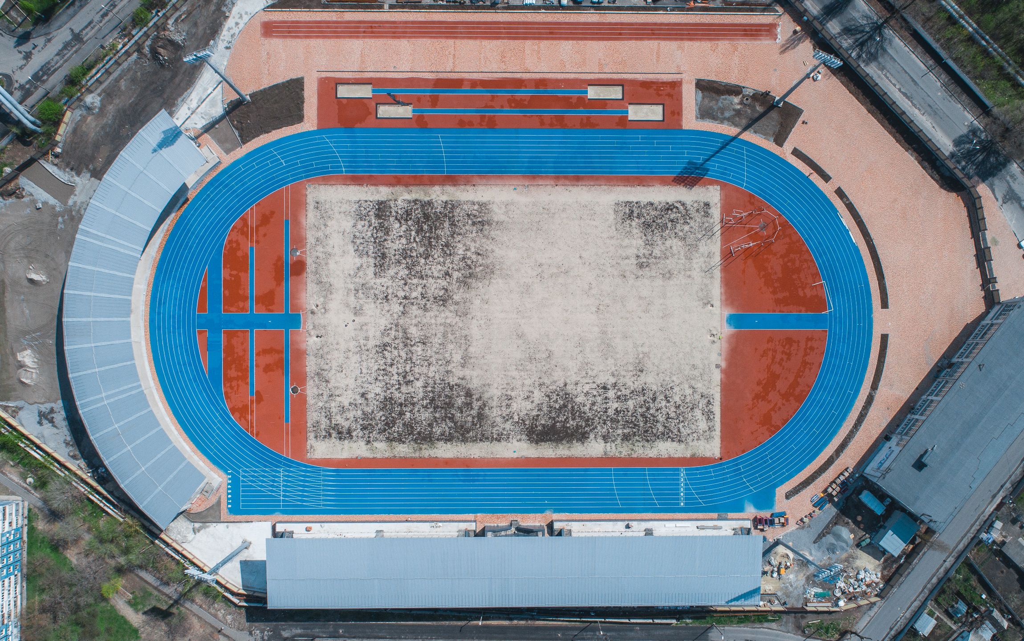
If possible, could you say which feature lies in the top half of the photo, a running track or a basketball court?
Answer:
running track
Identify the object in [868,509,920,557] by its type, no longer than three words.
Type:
shed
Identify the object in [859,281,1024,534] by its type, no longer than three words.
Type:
building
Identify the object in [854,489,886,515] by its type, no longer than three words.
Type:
building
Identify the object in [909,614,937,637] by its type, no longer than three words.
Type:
shed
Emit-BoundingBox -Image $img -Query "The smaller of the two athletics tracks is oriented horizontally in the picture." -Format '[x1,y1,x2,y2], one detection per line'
[262,20,782,43]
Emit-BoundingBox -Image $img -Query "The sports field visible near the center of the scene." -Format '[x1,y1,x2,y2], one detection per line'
[306,184,721,458]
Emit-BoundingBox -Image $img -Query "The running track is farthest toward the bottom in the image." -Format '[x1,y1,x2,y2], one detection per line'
[150,128,874,514]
